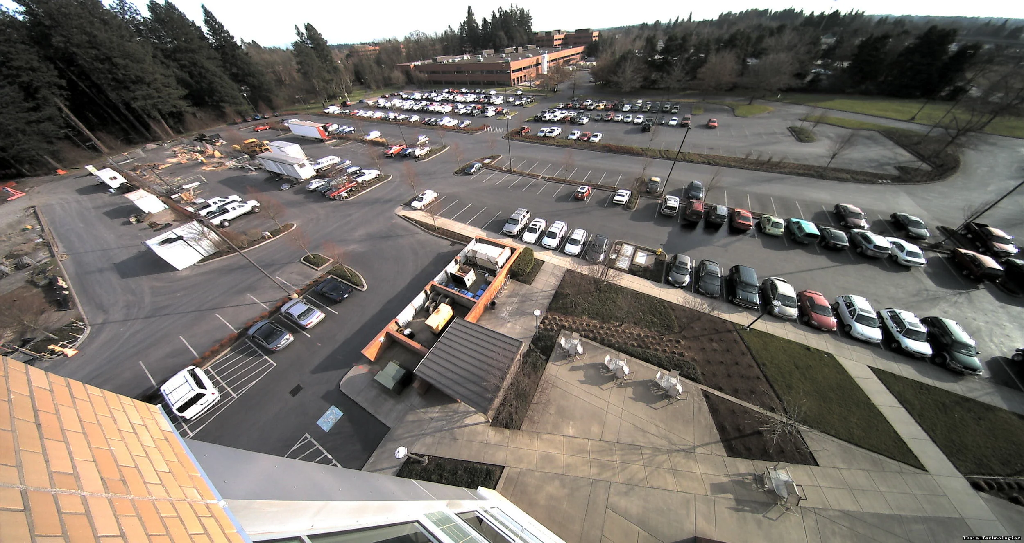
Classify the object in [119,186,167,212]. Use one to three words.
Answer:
trailer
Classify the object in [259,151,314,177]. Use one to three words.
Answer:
trailer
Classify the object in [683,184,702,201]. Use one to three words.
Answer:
car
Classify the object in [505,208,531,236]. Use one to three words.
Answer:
car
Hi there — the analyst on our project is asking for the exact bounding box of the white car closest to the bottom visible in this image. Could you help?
[158,367,223,419]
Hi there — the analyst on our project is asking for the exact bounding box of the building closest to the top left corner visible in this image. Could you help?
[134,219,226,268]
